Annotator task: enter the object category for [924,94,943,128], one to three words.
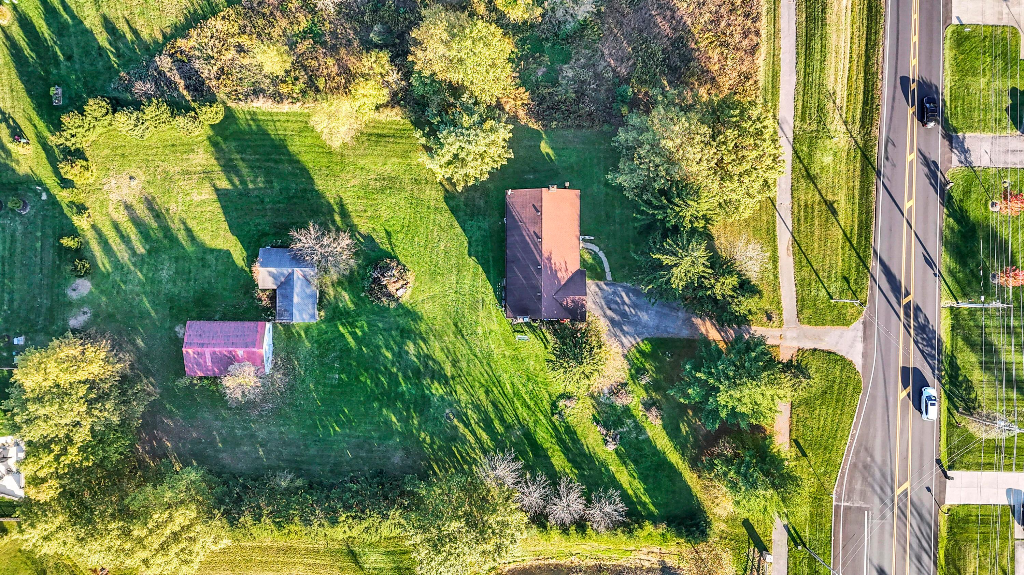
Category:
car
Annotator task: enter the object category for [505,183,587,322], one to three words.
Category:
house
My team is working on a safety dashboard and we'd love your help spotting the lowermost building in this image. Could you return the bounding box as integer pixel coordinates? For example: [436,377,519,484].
[182,321,273,377]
